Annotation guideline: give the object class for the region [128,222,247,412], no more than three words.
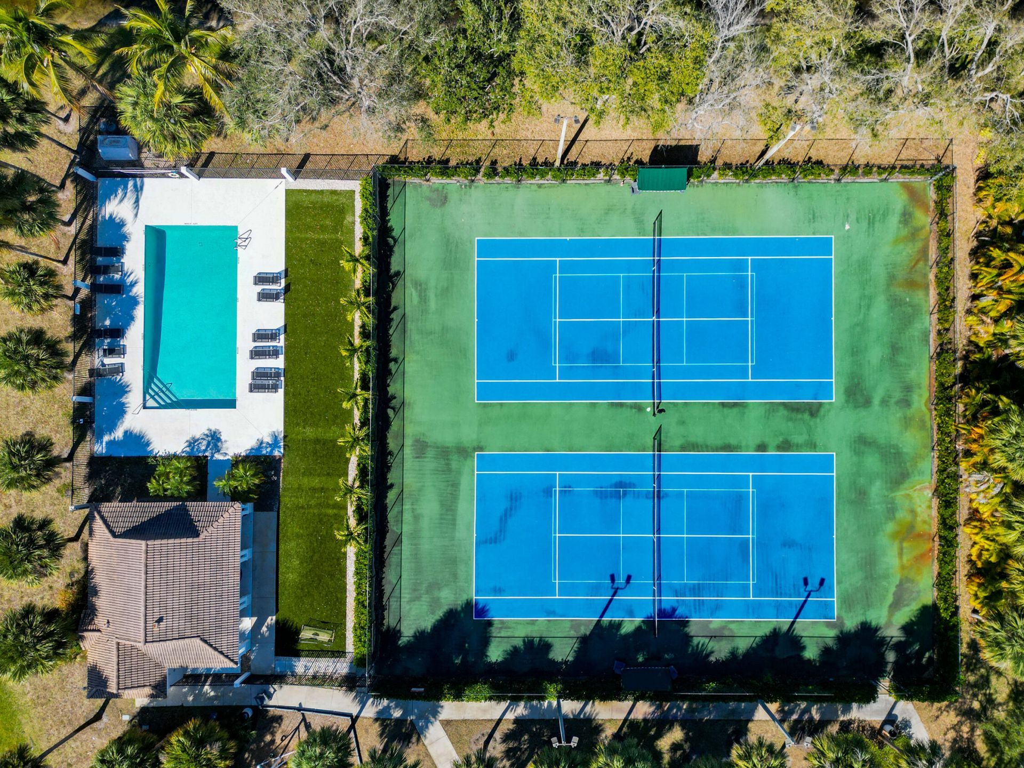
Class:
swimming pool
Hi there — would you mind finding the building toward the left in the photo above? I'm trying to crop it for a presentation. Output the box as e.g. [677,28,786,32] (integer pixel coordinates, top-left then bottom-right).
[73,501,253,701]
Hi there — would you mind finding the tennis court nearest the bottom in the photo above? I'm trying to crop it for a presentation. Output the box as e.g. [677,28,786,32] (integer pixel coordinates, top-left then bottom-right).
[473,452,839,621]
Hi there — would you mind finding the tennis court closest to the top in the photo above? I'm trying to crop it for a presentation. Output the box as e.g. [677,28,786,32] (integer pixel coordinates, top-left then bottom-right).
[475,236,836,402]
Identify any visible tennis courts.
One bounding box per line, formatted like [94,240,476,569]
[475,236,836,402]
[473,452,839,621]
